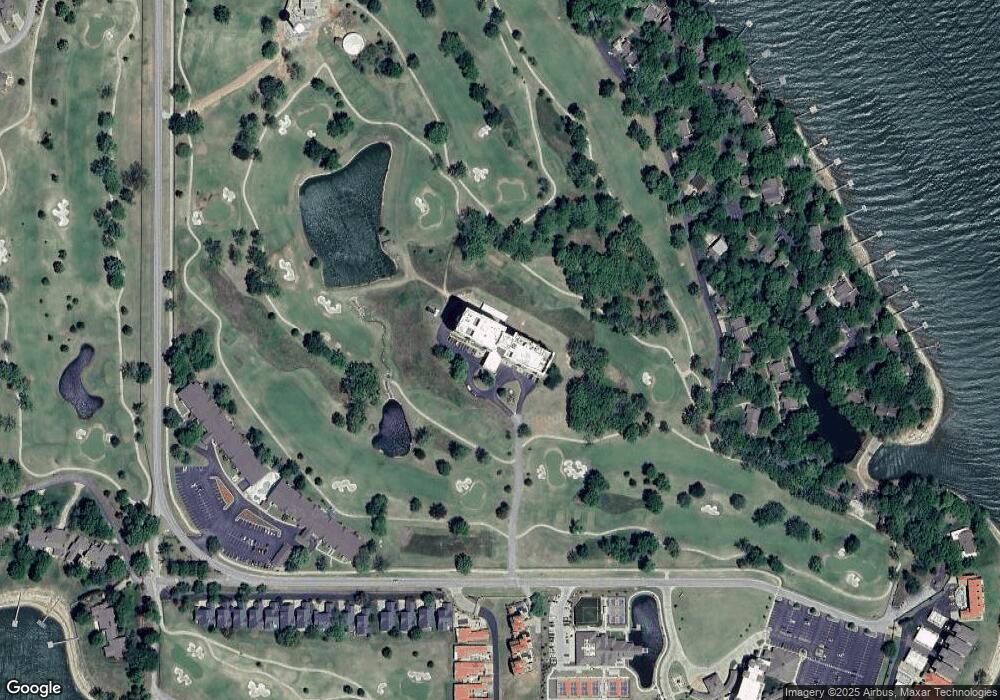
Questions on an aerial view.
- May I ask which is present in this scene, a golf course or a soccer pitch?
golf course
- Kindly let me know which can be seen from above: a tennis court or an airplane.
tennis court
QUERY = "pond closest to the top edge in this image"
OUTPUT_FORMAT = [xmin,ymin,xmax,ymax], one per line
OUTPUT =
[299,142,396,286]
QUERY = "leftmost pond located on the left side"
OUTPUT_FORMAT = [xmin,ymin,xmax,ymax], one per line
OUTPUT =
[59,344,104,419]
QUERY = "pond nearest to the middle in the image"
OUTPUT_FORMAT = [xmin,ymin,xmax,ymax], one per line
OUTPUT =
[372,398,411,457]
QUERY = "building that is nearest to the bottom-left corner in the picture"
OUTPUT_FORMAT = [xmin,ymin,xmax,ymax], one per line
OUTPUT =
[88,605,126,658]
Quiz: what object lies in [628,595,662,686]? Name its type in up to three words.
pond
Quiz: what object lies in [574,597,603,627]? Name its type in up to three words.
tennis court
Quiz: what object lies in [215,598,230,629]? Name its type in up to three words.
house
